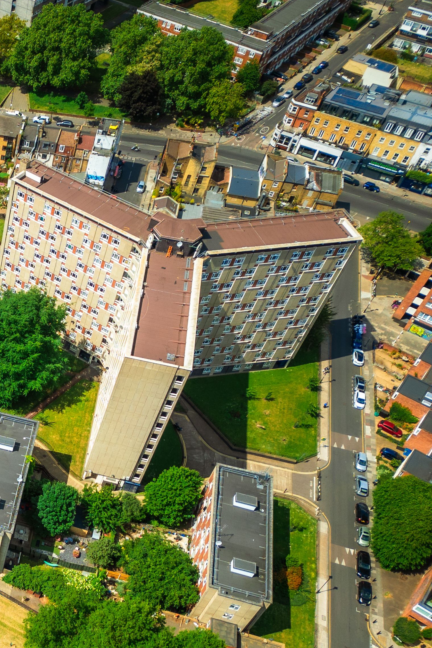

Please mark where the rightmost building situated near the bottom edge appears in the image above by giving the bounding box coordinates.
[392,583,432,629]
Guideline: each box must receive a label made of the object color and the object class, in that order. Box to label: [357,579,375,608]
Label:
black car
